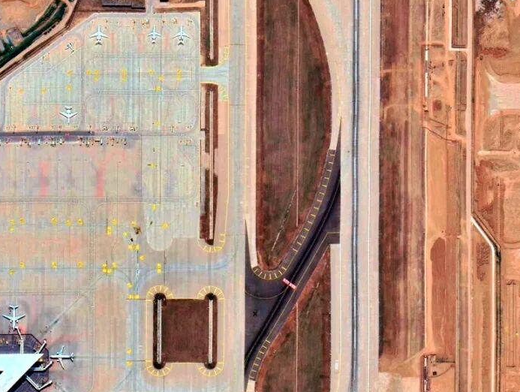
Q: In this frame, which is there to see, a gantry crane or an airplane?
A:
airplane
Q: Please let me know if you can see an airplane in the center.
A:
No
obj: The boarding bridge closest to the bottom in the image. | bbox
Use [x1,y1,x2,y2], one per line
[24,375,54,392]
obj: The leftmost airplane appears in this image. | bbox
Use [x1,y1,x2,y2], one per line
[2,305,25,330]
